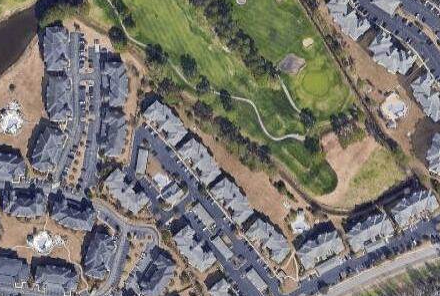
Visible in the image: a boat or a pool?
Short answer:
pool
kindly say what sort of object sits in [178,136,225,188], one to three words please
building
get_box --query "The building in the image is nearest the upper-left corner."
[43,26,70,72]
